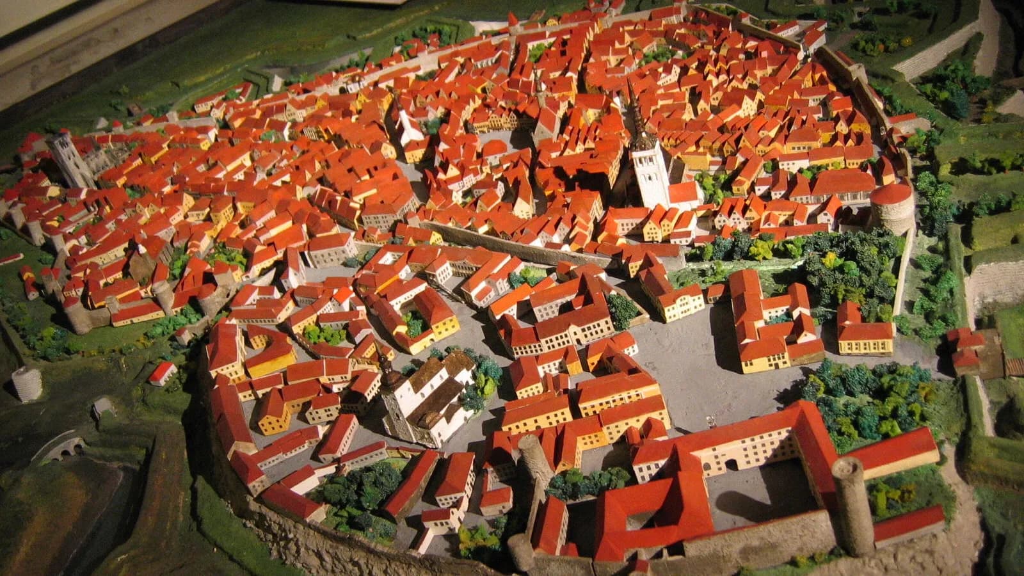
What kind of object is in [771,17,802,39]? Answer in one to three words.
house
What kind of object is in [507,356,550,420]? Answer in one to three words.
building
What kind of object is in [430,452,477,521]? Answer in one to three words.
building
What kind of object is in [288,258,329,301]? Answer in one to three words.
house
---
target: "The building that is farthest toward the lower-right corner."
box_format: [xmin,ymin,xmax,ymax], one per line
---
[872,503,946,547]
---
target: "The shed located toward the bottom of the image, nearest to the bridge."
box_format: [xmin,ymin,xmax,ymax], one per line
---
[86,394,114,422]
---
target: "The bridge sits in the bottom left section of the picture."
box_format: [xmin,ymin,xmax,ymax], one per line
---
[37,437,92,470]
